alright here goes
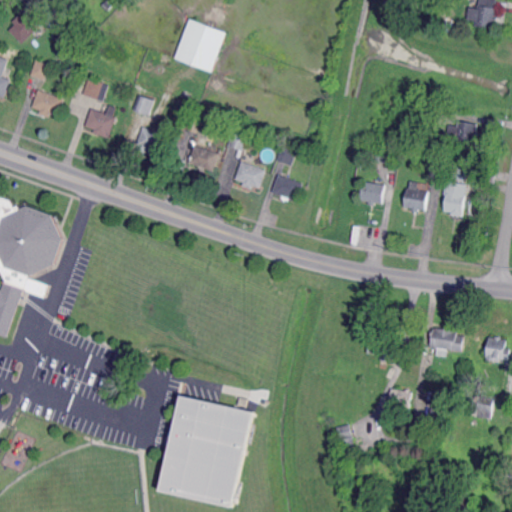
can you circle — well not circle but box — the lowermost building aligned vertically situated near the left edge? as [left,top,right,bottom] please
[0,198,62,338]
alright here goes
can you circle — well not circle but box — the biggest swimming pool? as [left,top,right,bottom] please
[260,148,276,164]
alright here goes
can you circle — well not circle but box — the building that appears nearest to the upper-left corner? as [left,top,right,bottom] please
[10,20,34,44]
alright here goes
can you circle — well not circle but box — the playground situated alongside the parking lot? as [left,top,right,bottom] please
[1,432,35,472]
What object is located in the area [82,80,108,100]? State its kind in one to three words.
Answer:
building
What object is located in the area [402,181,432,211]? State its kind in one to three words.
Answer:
house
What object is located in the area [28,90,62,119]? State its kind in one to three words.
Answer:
house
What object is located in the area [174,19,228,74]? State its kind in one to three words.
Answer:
barn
